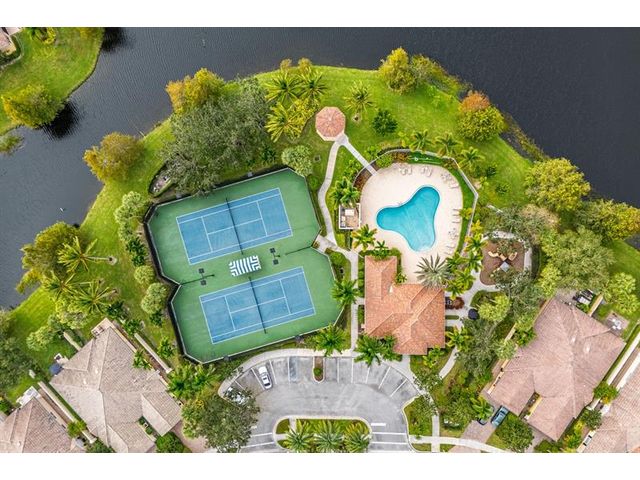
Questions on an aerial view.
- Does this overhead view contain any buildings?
Yes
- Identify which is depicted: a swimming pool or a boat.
swimming pool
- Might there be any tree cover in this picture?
Yes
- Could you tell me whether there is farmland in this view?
No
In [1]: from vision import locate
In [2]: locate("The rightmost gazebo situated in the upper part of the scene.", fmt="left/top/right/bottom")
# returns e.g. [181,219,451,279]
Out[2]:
[316,109,344,140]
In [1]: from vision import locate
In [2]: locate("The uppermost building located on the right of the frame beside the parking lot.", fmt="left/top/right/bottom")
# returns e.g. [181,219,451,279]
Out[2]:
[365,256,445,356]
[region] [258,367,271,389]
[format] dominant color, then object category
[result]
white vehicle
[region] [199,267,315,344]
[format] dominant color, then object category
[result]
blue tennis court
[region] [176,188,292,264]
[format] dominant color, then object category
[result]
blue tennis court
